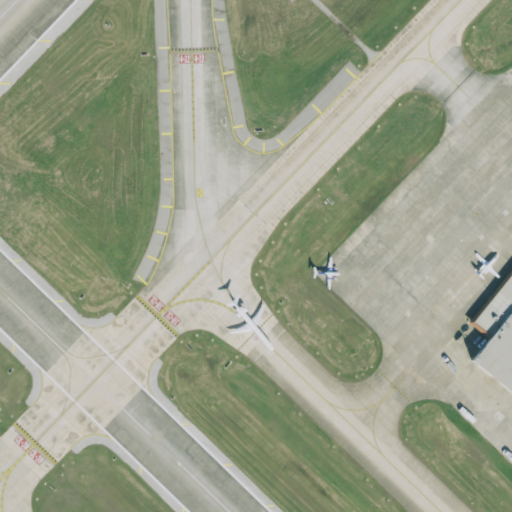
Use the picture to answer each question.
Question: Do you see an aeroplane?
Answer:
Yes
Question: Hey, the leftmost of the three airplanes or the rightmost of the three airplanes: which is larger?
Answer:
the leftmost of the three airplanes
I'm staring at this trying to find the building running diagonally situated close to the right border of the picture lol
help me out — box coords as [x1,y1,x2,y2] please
[472,275,512,338]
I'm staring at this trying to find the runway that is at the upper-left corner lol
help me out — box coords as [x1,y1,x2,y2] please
[0,0,92,84]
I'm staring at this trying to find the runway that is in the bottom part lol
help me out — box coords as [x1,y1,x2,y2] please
[0,249,275,512]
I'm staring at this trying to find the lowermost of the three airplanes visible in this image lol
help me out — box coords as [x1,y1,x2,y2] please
[226,294,273,350]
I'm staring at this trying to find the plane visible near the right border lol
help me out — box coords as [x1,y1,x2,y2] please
[475,253,500,279]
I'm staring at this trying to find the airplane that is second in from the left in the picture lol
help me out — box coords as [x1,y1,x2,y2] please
[312,257,340,290]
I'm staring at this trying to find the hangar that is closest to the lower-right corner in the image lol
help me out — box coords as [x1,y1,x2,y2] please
[473,314,512,394]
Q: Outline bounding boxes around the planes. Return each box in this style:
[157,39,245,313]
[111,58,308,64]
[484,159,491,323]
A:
[226,294,273,350]
[312,257,340,290]
[475,253,500,279]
